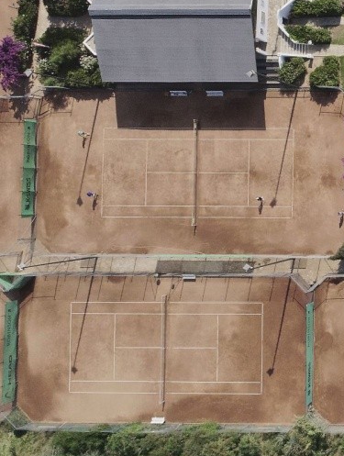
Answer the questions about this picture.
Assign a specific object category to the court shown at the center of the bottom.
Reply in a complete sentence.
It turns out the court shown at the center of the bottom is a tennis court.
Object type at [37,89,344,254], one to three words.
tennis court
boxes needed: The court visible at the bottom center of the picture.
[18,276,309,424]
